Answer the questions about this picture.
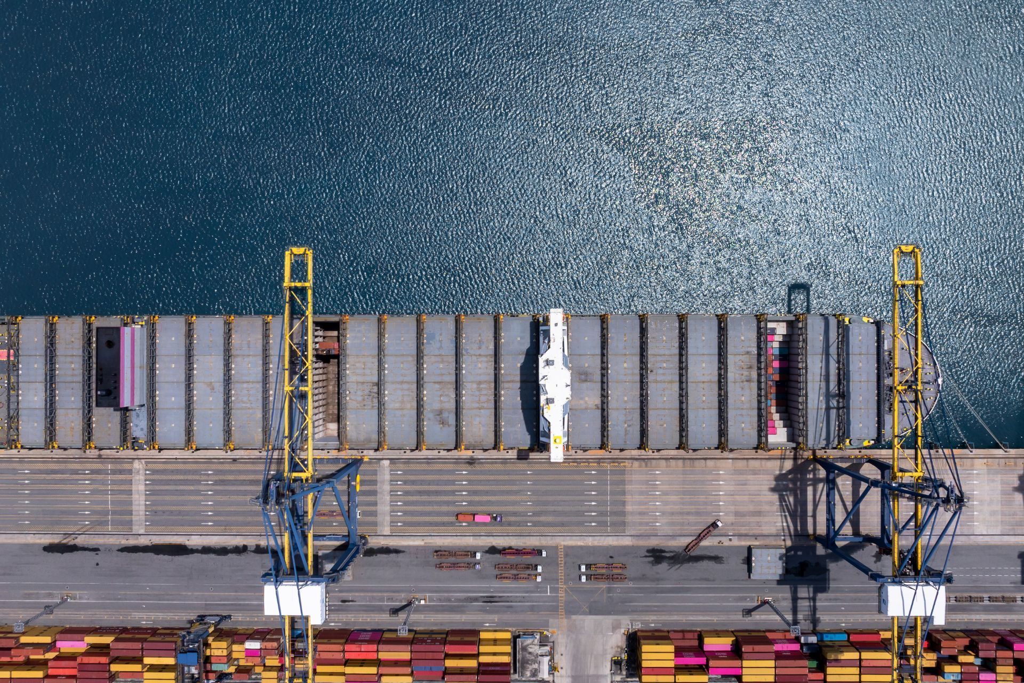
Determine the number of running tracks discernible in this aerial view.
none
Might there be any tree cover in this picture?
No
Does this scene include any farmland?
No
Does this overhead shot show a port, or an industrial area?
port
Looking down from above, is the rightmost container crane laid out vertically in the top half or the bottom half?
bottom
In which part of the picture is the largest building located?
bottom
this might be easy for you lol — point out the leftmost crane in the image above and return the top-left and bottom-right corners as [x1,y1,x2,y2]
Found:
[174,614,232,683]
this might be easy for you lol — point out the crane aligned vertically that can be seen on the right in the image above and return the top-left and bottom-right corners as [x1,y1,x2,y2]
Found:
[800,246,971,683]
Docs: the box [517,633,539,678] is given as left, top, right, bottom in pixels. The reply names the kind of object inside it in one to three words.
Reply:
building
